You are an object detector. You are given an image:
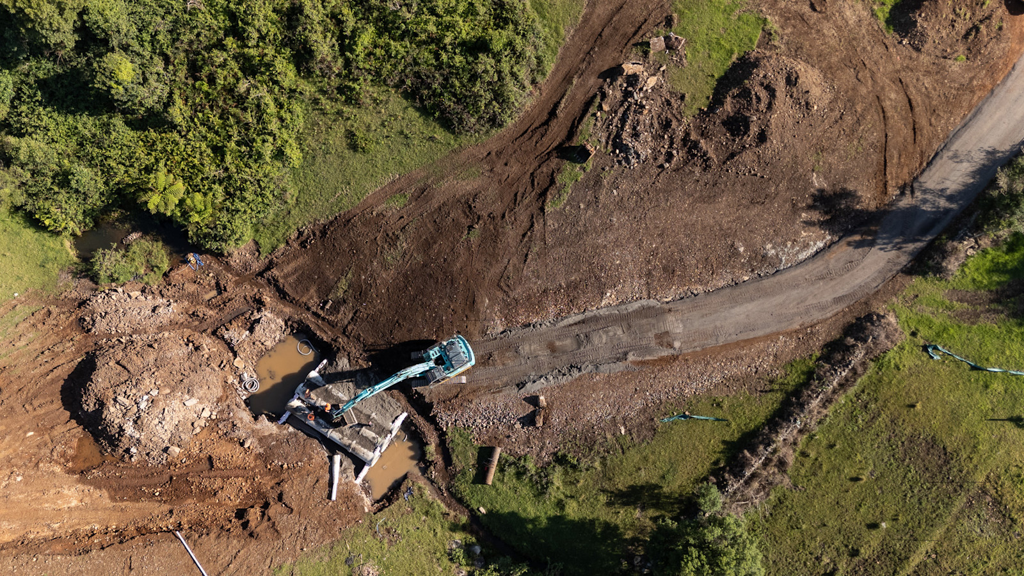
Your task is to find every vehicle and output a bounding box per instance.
[332,336,474,428]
